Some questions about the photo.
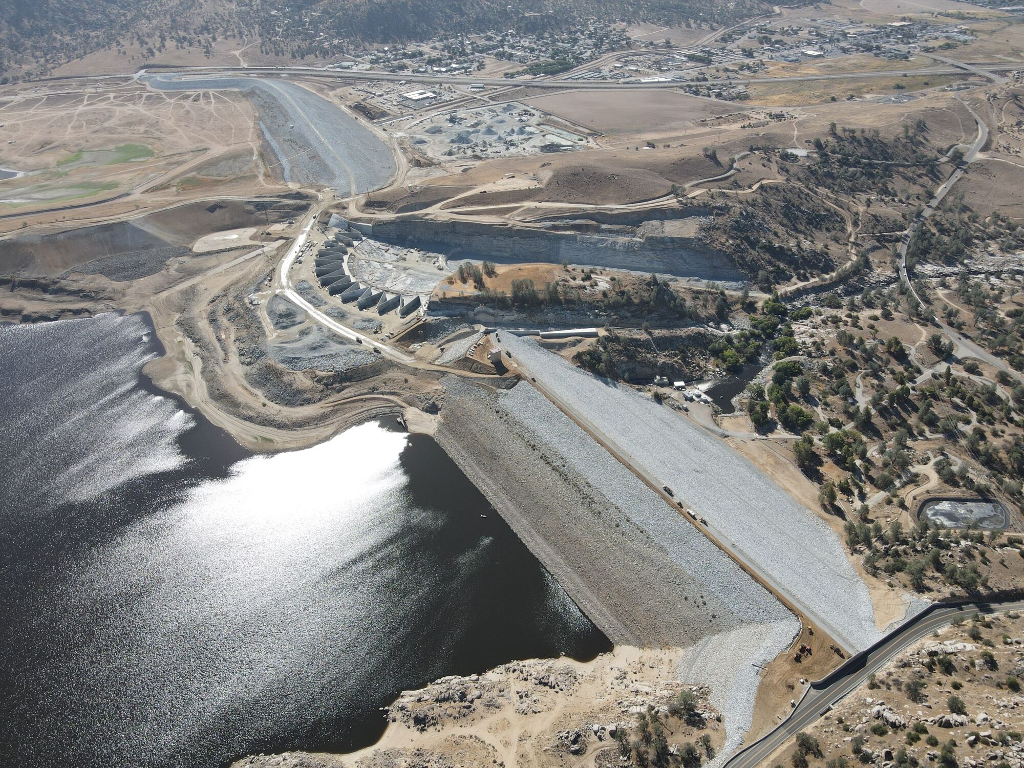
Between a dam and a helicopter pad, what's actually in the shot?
dam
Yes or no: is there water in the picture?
Yes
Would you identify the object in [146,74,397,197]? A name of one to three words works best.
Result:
dam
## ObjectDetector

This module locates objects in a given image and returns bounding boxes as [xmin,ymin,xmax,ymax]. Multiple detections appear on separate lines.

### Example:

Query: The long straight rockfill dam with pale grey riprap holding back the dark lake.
[435,332,885,660]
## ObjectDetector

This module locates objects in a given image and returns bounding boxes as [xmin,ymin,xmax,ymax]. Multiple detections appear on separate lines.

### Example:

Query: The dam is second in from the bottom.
[315,228,424,317]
